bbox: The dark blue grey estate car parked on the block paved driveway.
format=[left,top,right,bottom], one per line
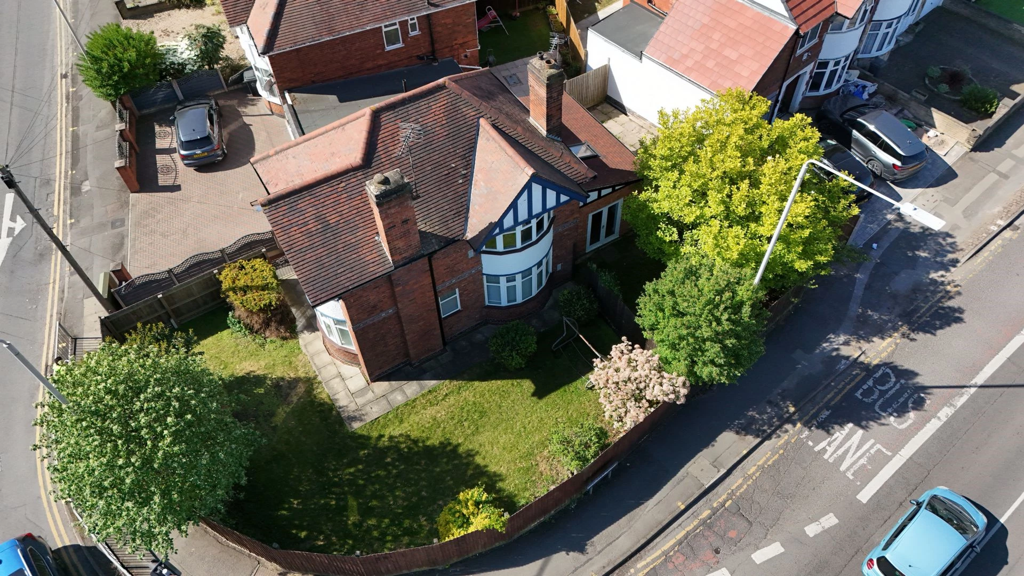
[172,103,225,168]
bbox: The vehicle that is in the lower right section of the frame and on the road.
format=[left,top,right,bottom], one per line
[864,487,983,576]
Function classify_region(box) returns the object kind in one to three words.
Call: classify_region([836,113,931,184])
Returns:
car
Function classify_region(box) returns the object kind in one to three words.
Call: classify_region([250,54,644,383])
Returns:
house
